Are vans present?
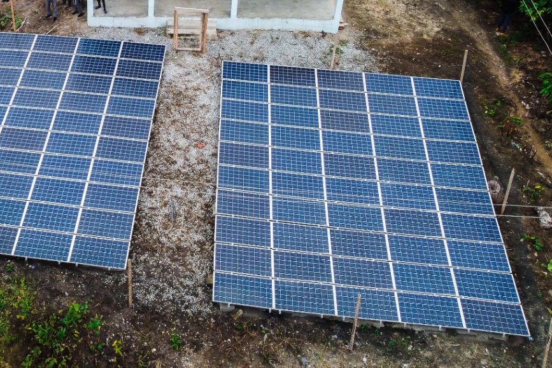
No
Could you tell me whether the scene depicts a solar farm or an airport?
solar farm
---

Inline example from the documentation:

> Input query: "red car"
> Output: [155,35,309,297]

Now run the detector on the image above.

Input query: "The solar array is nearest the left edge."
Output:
[0,32,164,275]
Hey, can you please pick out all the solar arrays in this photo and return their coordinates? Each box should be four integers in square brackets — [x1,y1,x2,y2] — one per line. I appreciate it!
[0,32,164,275]
[212,62,530,344]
